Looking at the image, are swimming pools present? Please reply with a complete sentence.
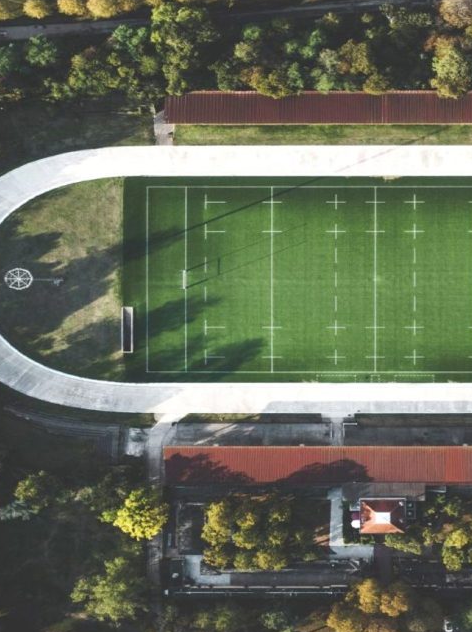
No, I can see no swimming pool in this picture.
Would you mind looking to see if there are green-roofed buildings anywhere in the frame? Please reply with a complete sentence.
No, no green-roofed building can be seen from above.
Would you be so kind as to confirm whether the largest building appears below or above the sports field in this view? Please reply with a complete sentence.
In the image, the largest building sits below the sports field.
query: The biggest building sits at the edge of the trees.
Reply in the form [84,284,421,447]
[342,485,425,534]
